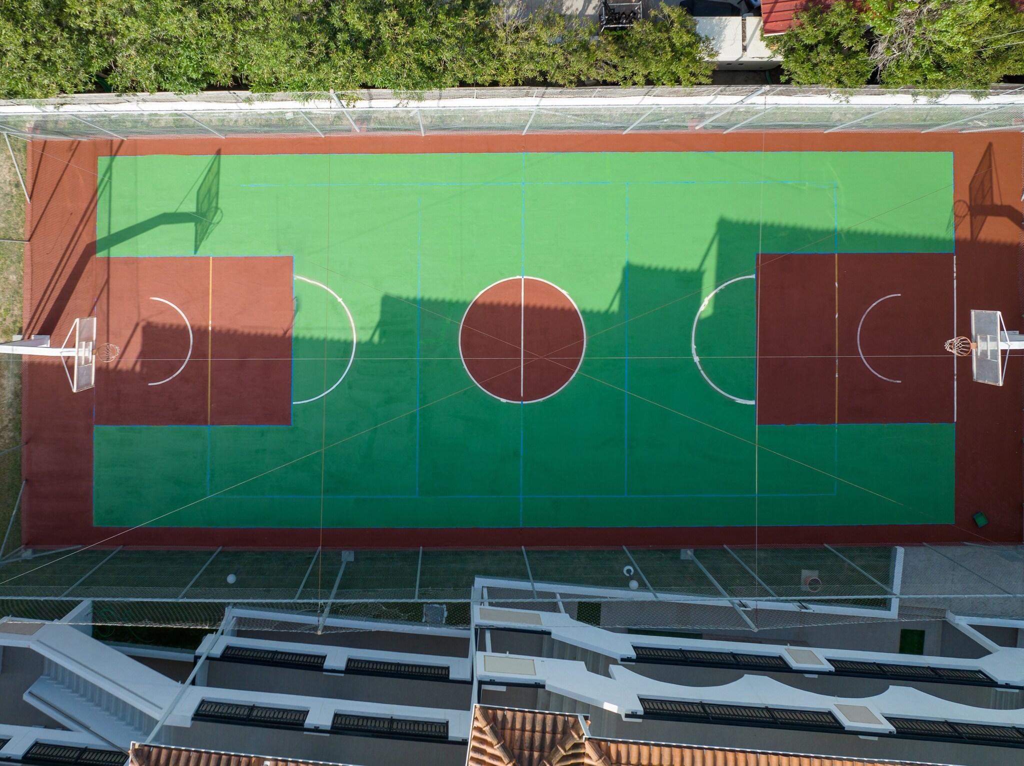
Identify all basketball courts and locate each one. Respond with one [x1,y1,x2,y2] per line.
[19,127,1024,555]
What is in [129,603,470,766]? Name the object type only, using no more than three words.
house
